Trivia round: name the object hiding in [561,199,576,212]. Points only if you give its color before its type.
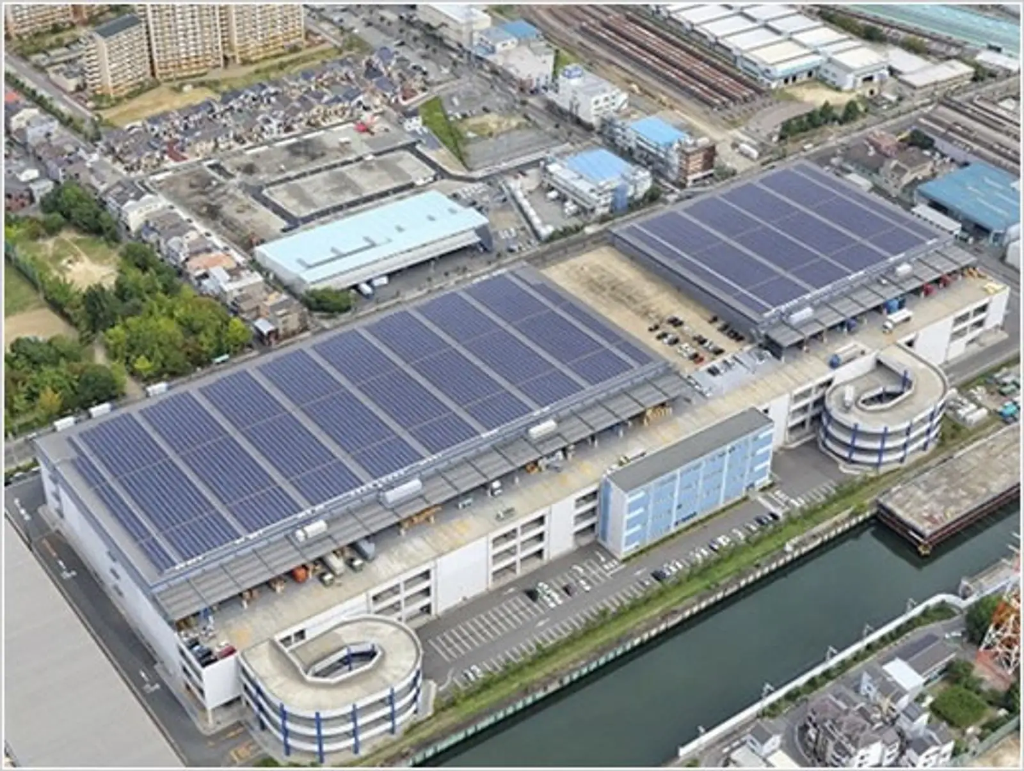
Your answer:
white vehicle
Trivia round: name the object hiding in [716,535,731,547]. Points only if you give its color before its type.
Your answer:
white vehicle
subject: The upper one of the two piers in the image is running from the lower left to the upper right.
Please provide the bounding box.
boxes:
[875,418,1024,550]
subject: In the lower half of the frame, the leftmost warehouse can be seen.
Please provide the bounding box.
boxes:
[0,504,187,771]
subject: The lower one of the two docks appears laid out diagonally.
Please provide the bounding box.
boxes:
[945,544,1024,601]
